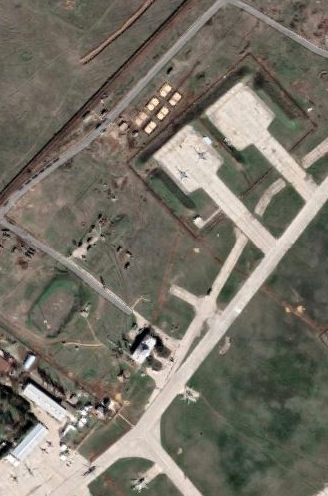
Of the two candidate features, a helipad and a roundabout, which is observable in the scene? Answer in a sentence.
I can see a helipad in this picture.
